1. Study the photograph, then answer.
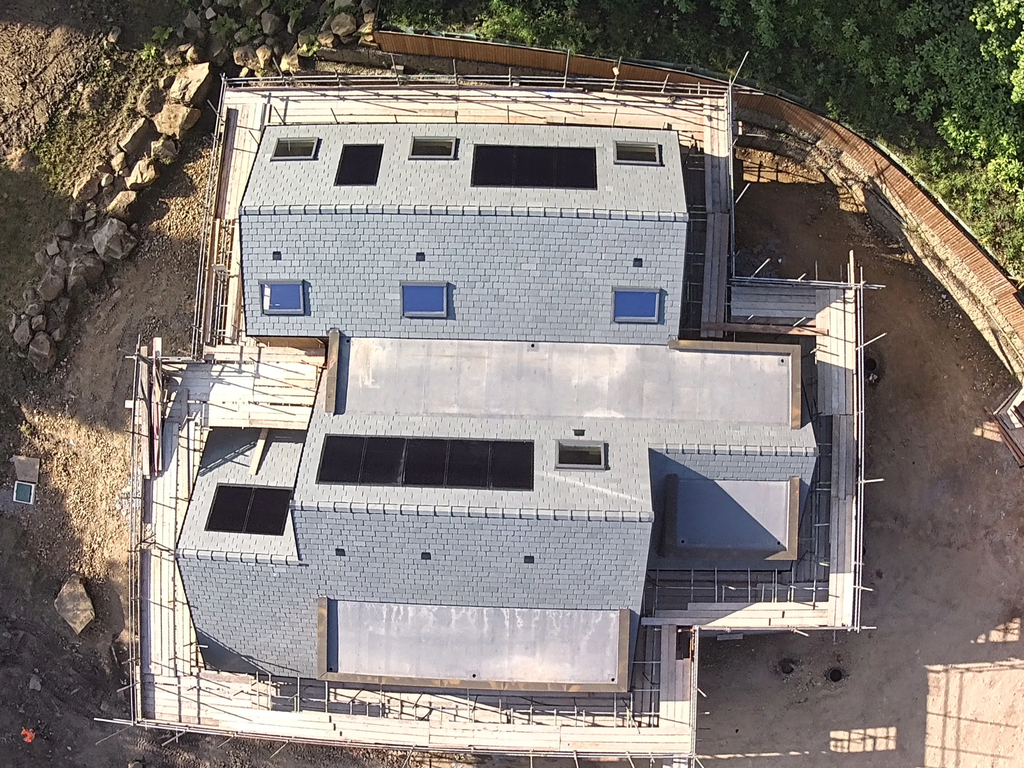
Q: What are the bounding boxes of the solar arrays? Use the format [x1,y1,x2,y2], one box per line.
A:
[334,144,384,185]
[205,485,293,533]
[315,435,534,490]
[471,146,597,188]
